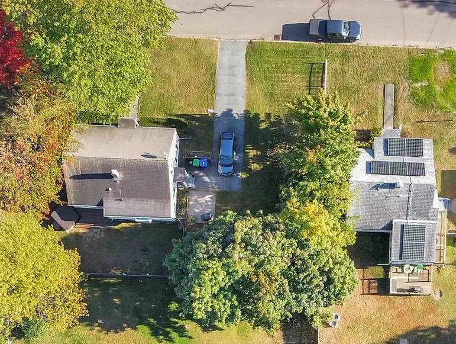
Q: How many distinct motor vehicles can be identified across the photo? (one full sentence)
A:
The number of motor vehicles here is 2.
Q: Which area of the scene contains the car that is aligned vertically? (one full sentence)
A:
The car that is aligned vertically appears toward the center of the photo.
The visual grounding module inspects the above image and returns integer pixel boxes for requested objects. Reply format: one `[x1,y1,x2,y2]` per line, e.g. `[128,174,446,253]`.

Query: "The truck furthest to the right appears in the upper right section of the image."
[305,14,359,41]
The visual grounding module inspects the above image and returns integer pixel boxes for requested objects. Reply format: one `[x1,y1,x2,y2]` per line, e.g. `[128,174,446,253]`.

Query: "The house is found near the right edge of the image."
[347,128,456,295]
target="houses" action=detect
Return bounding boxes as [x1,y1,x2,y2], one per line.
[347,128,456,295]
[53,118,202,225]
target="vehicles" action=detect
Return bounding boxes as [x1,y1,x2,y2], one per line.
[214,129,235,176]
[305,14,359,41]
